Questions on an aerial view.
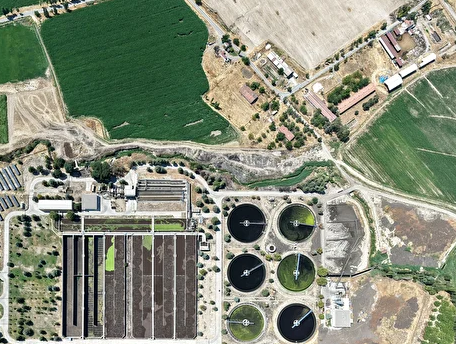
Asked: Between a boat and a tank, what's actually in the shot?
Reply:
tank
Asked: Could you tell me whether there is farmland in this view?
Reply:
Yes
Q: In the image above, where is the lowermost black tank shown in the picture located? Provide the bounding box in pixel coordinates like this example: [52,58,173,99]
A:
[277,303,315,342]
